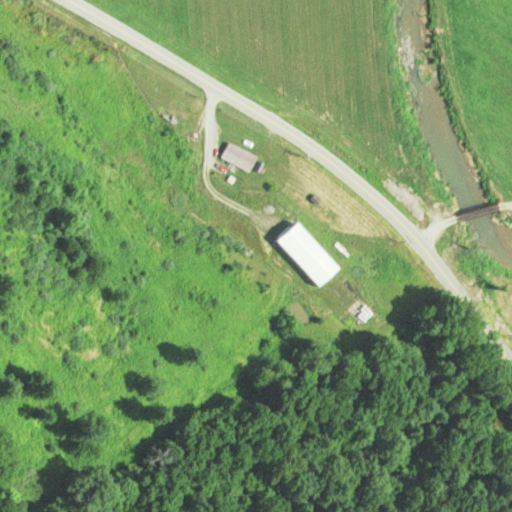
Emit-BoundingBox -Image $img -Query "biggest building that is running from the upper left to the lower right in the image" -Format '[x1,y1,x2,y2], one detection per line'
[277,222,340,287]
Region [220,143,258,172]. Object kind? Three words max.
house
